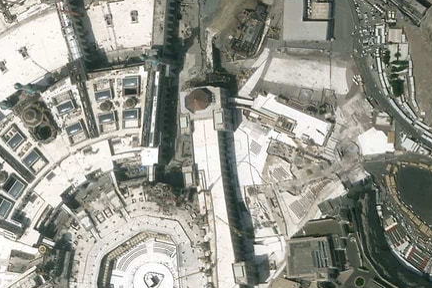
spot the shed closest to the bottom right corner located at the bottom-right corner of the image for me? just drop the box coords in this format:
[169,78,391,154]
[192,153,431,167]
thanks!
[403,245,430,272]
